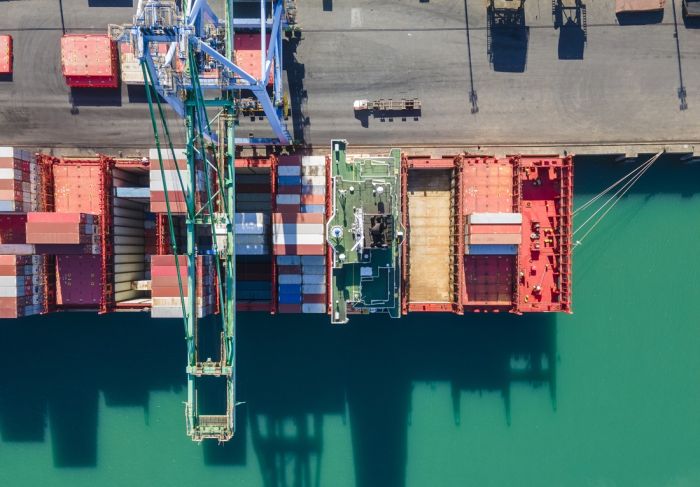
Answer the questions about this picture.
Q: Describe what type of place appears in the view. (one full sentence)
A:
It's a port.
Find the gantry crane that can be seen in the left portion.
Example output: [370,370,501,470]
[107,0,308,443]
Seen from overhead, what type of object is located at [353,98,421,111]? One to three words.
vehicle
